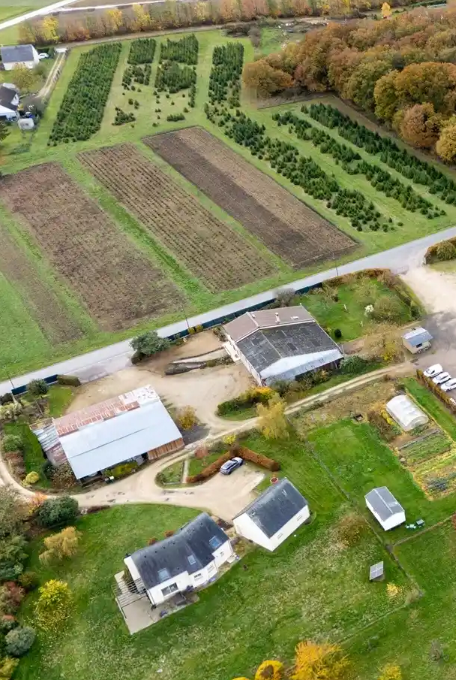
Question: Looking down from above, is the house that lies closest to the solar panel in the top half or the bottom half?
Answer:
bottom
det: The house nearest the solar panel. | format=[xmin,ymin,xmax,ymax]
[364,486,406,531]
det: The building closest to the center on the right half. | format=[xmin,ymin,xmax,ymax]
[209,300,352,396]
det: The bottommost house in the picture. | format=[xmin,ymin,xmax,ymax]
[133,518,233,604]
